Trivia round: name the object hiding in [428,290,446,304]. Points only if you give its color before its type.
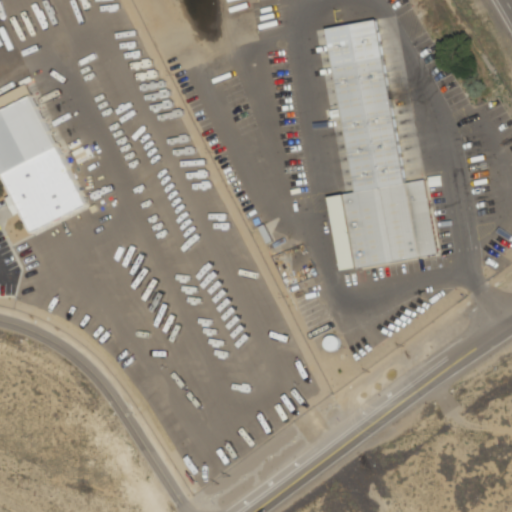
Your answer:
white vehicle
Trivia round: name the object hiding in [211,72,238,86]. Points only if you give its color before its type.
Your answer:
white vehicle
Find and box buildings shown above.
[324,20,419,269]
[0,96,88,234]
